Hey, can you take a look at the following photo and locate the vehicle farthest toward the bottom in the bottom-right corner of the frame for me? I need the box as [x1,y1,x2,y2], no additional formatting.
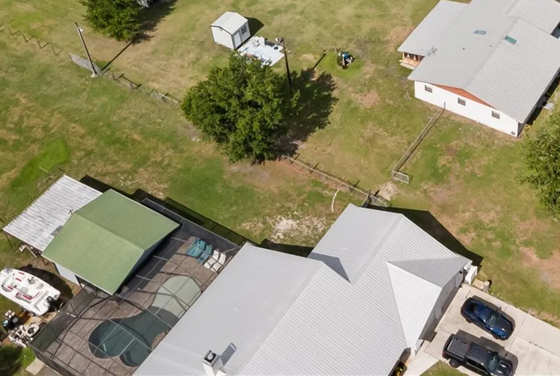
[446,329,517,376]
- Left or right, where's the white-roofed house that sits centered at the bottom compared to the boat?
right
